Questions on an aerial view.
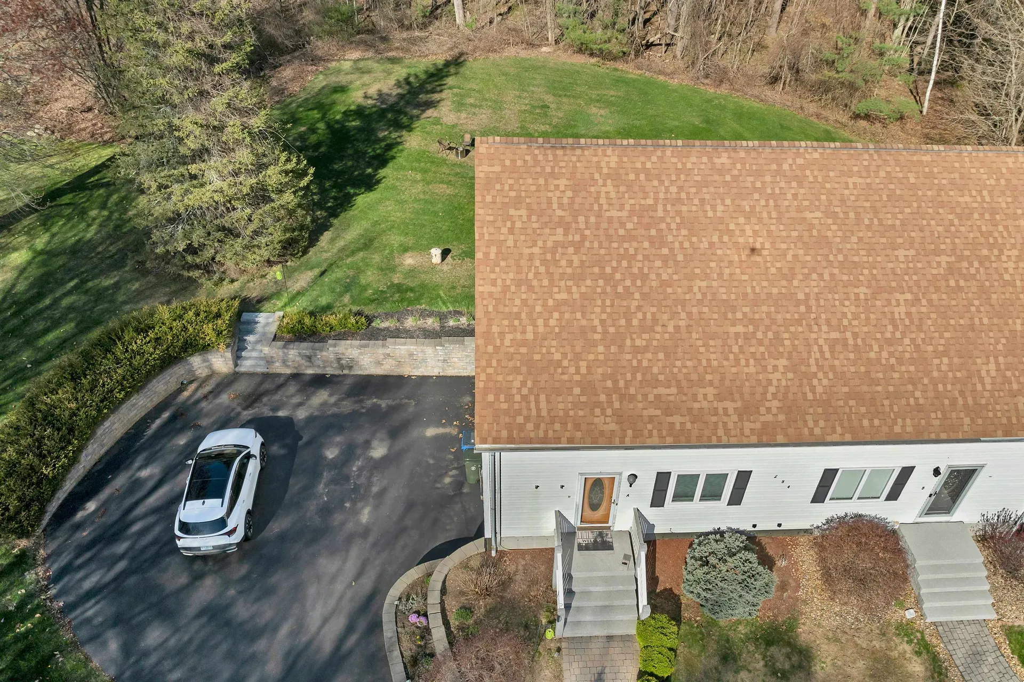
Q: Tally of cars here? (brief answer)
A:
1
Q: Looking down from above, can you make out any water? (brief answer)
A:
No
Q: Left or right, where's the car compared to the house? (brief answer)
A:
left of it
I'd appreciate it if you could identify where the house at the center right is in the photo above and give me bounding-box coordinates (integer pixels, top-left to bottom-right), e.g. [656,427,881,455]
[471,137,1024,553]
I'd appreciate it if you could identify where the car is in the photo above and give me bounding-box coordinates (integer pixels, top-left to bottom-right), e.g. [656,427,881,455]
[173,430,266,554]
